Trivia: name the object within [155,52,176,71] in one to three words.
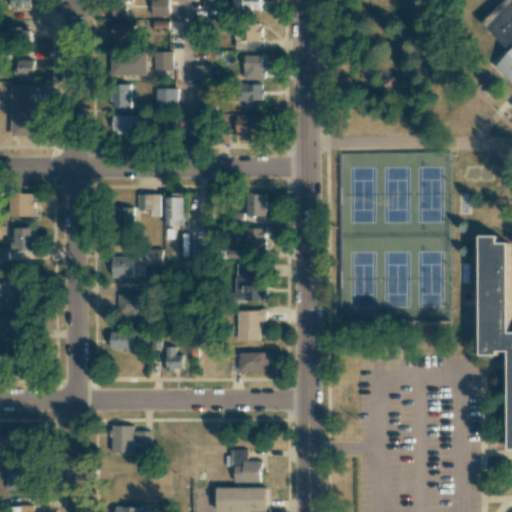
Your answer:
building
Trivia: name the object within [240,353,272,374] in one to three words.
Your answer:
house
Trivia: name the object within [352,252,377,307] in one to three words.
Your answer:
tennis court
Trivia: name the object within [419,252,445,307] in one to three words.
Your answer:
tennis court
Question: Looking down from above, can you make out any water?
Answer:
No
